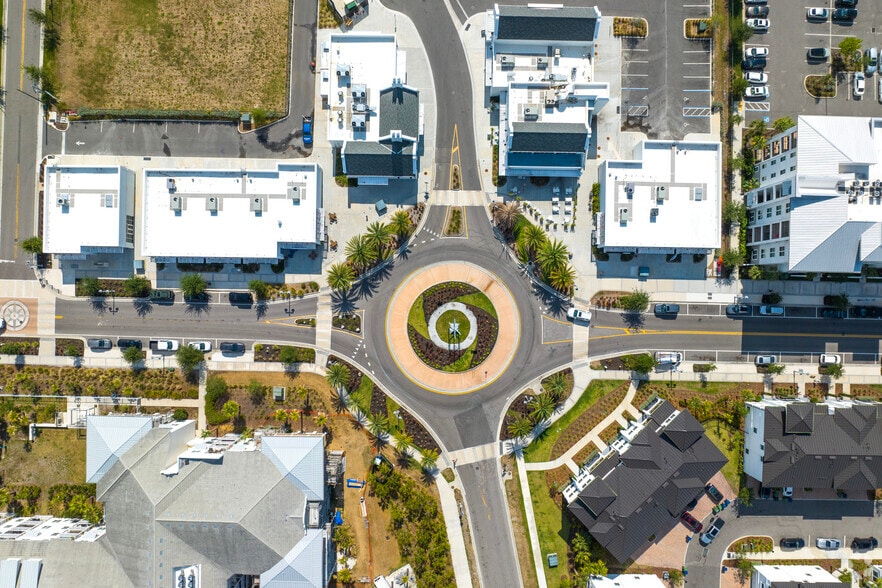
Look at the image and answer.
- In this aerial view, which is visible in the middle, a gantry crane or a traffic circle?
traffic circle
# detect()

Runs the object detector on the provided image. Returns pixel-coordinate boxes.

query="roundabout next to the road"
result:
[361,236,545,421]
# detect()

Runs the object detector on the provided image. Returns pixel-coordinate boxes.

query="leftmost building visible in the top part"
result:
[42,166,136,260]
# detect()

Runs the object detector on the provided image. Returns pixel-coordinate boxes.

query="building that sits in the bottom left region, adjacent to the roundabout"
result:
[0,405,334,588]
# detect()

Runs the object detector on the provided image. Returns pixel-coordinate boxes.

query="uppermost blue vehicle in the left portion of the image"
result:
[301,115,314,145]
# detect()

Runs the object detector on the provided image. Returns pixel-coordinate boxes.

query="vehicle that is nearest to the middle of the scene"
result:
[566,308,591,320]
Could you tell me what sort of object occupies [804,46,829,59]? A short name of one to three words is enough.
vehicle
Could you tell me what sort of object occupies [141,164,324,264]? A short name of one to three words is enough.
building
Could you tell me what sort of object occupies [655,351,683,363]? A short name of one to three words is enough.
vehicle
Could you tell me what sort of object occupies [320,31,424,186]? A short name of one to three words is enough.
building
